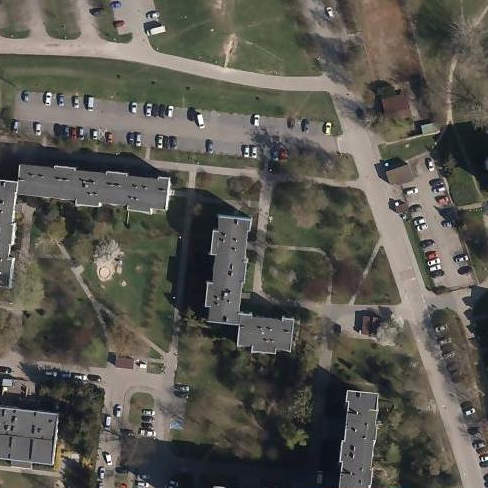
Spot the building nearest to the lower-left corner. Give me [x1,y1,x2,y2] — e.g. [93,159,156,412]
[0,407,60,469]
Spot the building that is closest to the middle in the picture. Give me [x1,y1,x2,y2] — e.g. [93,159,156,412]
[206,216,295,355]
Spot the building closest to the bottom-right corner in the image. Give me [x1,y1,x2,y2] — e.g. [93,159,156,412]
[339,391,379,488]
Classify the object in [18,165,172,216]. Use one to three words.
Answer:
building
